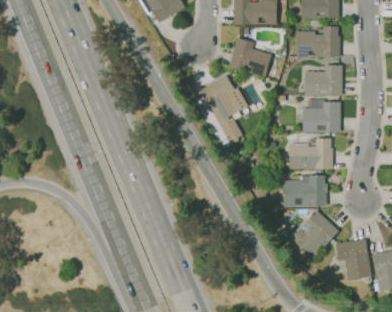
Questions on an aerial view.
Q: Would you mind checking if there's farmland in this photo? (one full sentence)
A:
No, the picture contains no farmland.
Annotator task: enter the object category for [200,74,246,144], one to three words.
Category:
house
